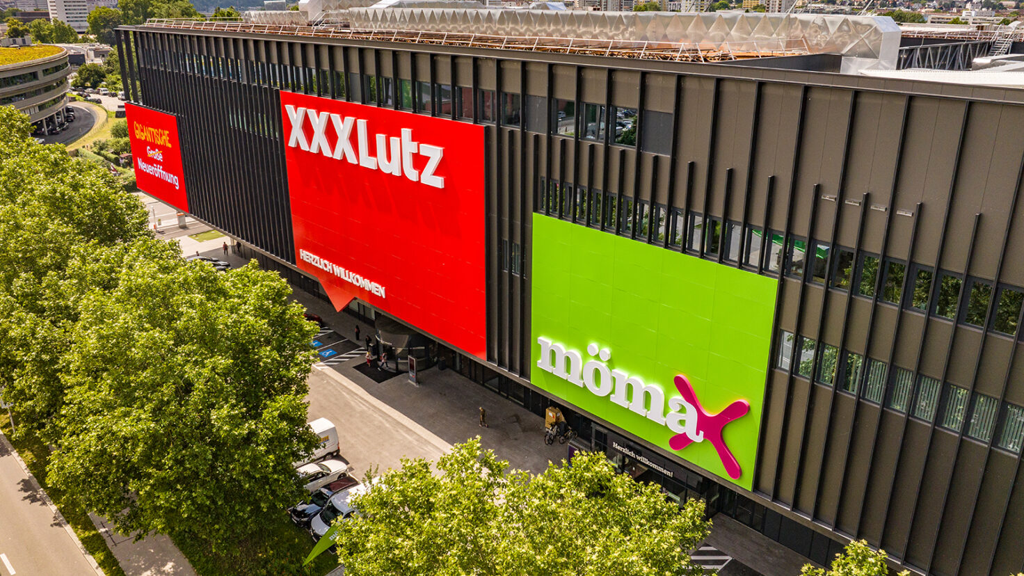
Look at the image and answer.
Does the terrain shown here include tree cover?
Yes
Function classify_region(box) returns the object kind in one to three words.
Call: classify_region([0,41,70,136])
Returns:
building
